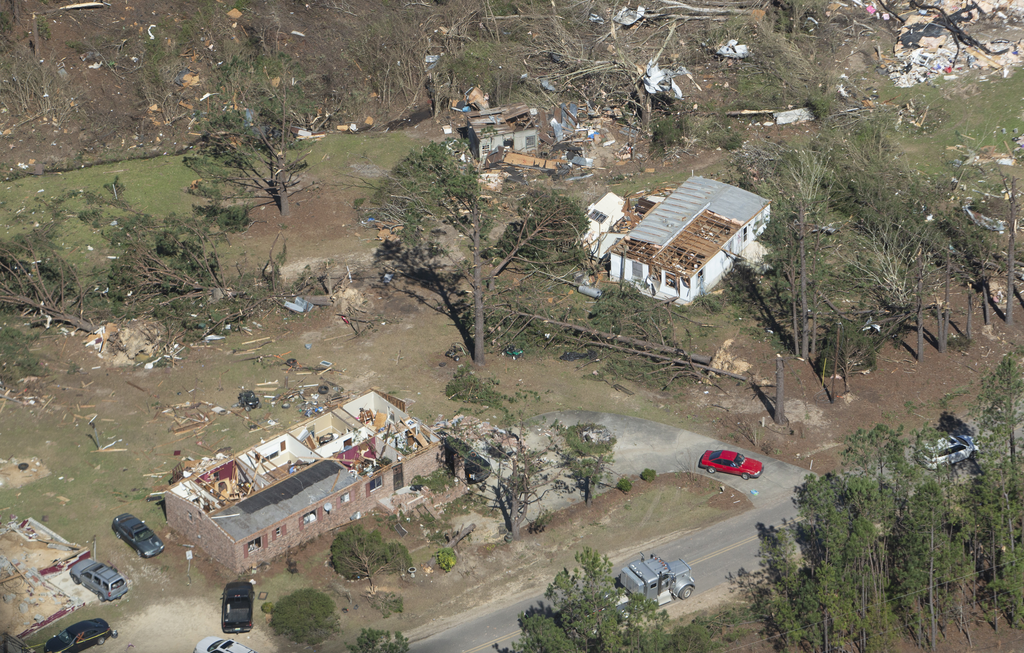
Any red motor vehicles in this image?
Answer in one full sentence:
Yes, the frame does contain a red motor vehicle.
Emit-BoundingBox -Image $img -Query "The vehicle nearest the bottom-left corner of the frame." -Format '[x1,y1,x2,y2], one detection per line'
[40,612,113,653]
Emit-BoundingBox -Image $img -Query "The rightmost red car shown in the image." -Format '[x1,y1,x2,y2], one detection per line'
[698,447,766,478]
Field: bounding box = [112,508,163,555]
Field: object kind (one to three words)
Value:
car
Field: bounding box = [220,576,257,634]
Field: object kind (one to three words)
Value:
truck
